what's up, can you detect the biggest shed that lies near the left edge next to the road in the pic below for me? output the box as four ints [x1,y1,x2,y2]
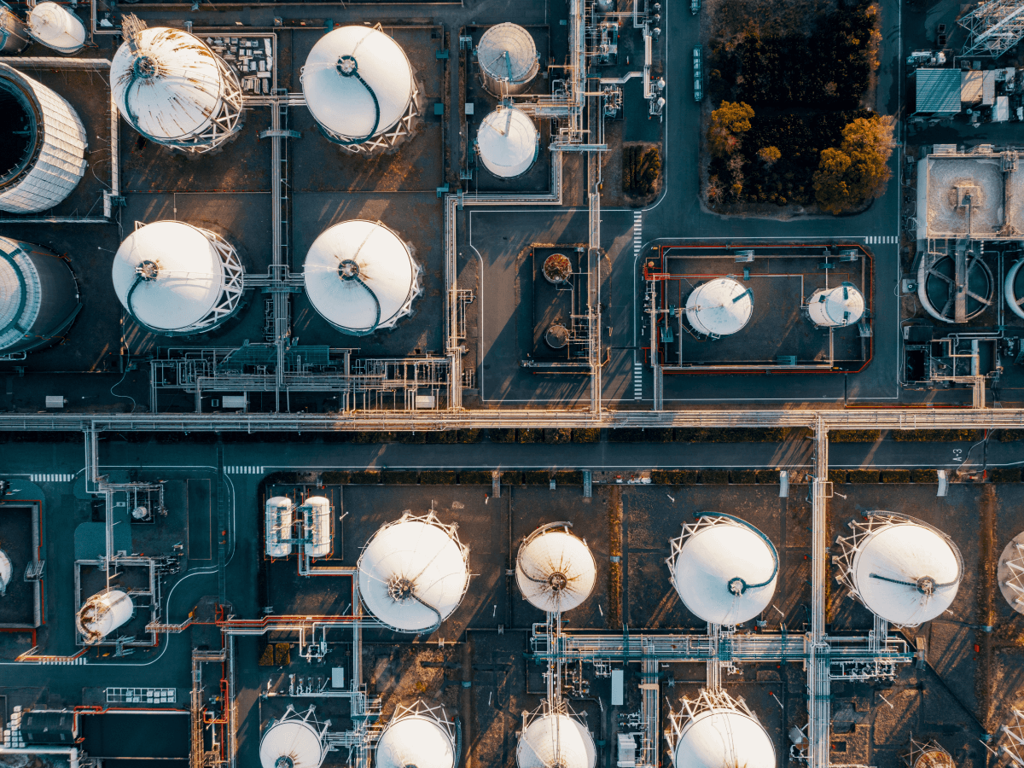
[22,707,80,740]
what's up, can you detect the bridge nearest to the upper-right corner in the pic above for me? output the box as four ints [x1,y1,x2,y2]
[955,240,968,322]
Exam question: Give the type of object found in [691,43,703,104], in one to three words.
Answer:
vehicle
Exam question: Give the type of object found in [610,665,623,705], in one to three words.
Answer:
building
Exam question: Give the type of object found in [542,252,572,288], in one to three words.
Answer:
storage tank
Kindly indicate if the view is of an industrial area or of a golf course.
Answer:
industrial area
